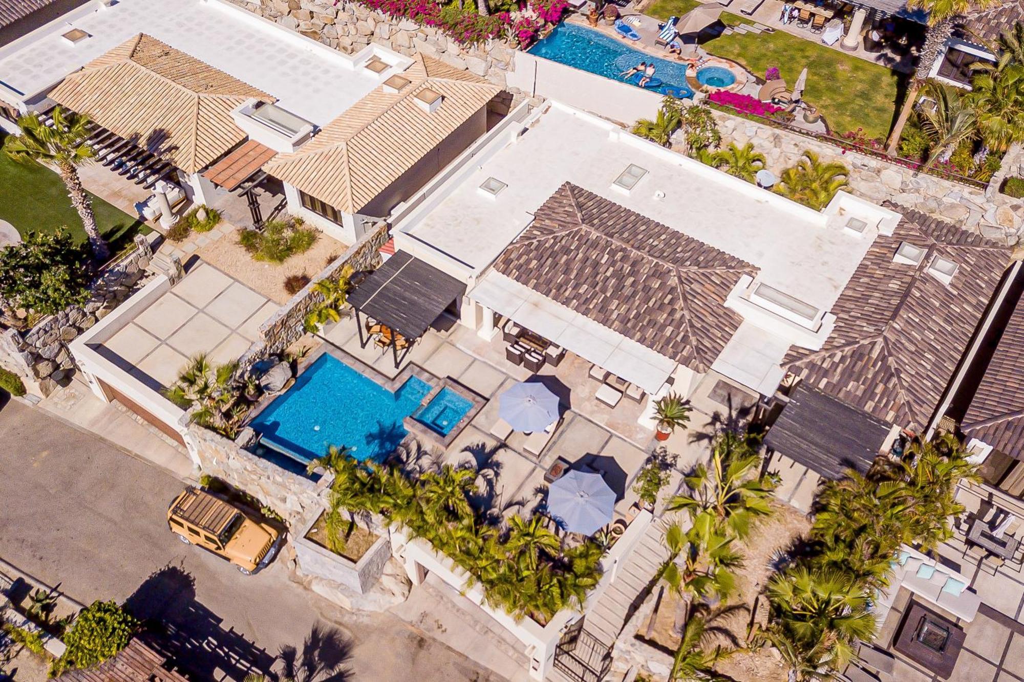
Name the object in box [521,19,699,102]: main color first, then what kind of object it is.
blue swimming pool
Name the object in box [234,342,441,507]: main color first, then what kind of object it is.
blue swimming pool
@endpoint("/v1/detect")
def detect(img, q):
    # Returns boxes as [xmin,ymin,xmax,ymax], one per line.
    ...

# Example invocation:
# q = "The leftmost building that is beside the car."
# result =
[65,274,214,449]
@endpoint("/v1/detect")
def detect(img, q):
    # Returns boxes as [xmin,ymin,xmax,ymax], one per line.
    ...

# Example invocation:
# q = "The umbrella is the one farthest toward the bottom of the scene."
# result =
[549,479,615,541]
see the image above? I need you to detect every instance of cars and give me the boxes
[169,488,281,578]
